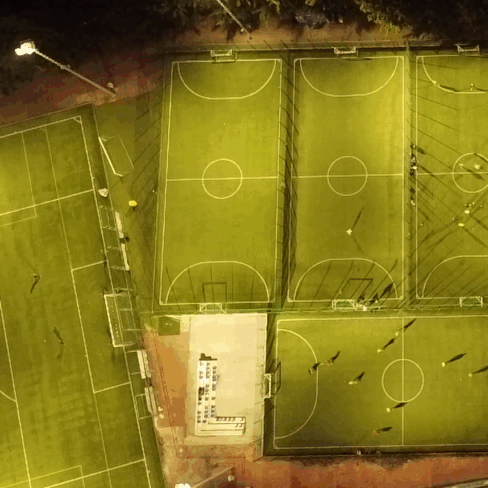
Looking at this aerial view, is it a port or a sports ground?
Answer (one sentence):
This image shows a sports ground.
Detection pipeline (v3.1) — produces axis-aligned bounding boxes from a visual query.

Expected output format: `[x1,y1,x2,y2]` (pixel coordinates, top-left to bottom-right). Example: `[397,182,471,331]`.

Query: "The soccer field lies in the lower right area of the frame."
[264,309,488,455]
